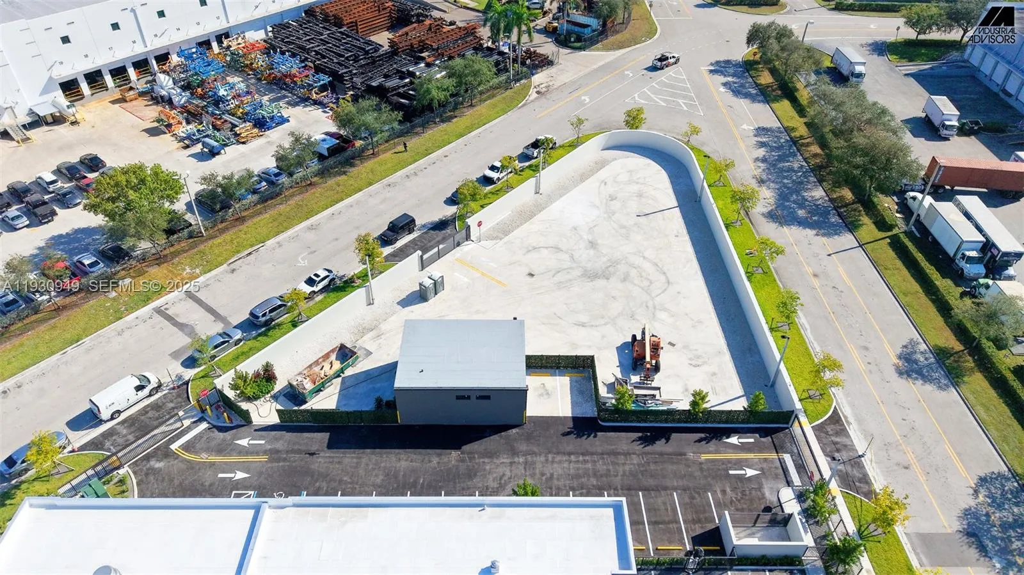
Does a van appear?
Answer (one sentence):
Yes, there's a van here.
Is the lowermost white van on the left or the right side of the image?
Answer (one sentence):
It is on the left.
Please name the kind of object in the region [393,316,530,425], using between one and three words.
building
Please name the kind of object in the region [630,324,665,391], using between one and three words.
work vehicle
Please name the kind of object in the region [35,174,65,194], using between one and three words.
car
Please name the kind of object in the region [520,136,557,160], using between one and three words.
truck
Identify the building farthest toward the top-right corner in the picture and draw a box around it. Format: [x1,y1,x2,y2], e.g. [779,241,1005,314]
[923,2,1024,110]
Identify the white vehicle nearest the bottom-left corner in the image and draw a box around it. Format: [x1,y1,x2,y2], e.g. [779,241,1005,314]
[84,371,162,426]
